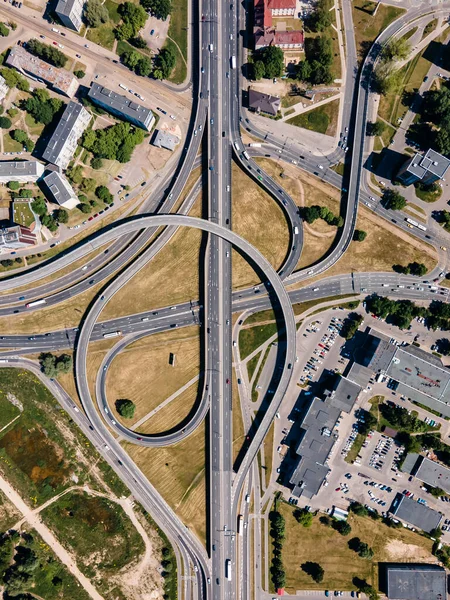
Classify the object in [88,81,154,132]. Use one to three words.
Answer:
building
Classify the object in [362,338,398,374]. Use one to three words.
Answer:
building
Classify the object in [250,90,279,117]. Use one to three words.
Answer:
house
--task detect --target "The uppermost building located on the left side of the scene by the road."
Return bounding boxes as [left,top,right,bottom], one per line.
[56,0,87,32]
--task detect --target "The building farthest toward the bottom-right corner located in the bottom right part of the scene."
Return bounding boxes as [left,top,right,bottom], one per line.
[386,565,446,600]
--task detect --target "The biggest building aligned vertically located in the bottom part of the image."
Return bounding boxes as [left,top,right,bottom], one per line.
[288,395,342,499]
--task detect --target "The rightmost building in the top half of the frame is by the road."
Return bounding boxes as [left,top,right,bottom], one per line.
[418,148,450,183]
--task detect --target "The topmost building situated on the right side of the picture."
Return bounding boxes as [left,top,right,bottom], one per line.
[254,0,304,51]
